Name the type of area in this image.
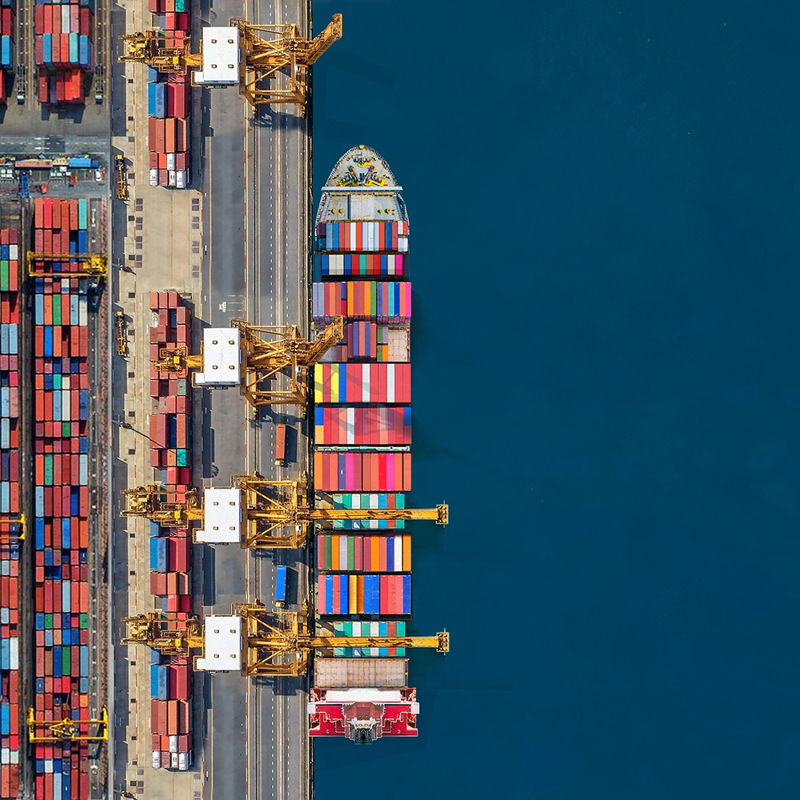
port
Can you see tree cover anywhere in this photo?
No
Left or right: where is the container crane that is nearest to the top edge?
left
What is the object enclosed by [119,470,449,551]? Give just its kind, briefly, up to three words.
container crane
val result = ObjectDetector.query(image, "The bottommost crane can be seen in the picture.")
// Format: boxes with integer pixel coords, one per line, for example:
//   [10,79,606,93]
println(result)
[28,708,111,742]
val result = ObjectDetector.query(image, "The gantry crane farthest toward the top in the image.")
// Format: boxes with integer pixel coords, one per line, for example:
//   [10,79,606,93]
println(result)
[119,8,344,121]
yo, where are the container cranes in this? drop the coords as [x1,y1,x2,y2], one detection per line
[119,587,449,679]
[119,8,344,121]
[28,708,111,742]
[119,470,449,551]
[0,512,30,540]
[151,312,344,407]
[29,252,112,284]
